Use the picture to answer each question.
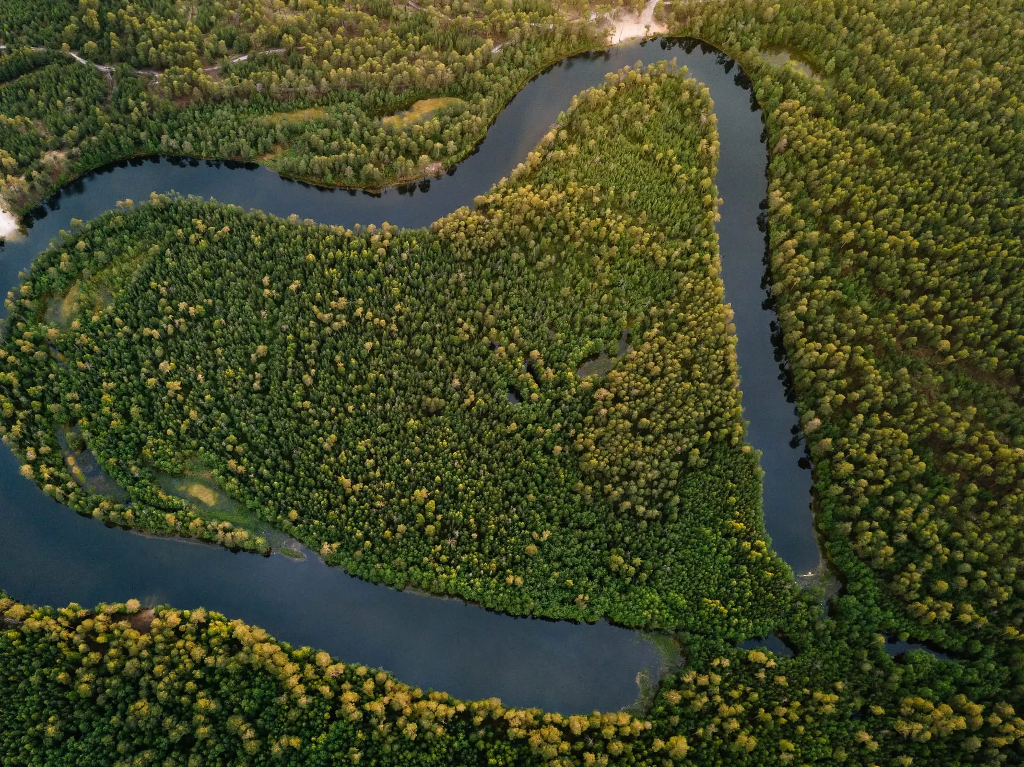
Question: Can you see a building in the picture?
No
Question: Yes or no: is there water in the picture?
Yes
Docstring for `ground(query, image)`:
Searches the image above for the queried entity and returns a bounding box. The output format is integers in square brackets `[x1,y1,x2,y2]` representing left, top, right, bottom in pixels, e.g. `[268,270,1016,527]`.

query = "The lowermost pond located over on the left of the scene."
[56,420,131,505]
